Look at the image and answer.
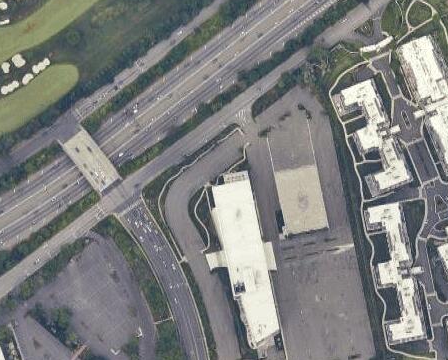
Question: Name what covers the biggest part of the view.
paved ground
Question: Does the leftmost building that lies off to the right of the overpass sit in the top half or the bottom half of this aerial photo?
bottom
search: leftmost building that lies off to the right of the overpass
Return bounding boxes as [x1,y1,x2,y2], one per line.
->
[206,170,280,359]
